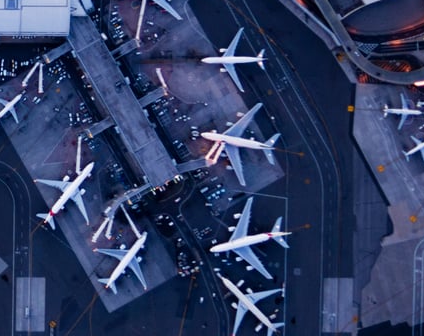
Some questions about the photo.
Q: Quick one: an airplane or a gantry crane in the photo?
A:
airplane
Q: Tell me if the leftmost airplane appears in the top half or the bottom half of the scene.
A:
top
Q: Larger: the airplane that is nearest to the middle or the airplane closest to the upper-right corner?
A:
the airplane that is nearest to the middle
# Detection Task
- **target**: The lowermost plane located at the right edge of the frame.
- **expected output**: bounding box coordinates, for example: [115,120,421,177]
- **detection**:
[403,135,424,162]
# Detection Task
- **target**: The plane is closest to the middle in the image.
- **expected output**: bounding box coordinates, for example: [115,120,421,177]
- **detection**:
[202,102,280,187]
